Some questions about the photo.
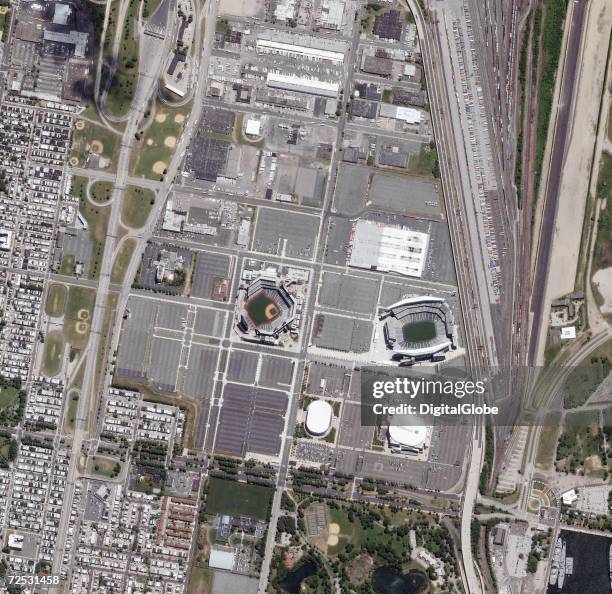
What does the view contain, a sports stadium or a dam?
sports stadium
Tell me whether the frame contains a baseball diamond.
Yes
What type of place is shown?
residential area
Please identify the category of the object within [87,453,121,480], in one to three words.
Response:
sports field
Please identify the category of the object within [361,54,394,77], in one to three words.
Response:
building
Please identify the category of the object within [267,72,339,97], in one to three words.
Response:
building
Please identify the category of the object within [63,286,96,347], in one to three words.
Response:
baseball field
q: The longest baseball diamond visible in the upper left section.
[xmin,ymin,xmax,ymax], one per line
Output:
[136,111,186,176]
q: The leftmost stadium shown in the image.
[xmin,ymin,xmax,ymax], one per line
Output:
[235,278,296,345]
